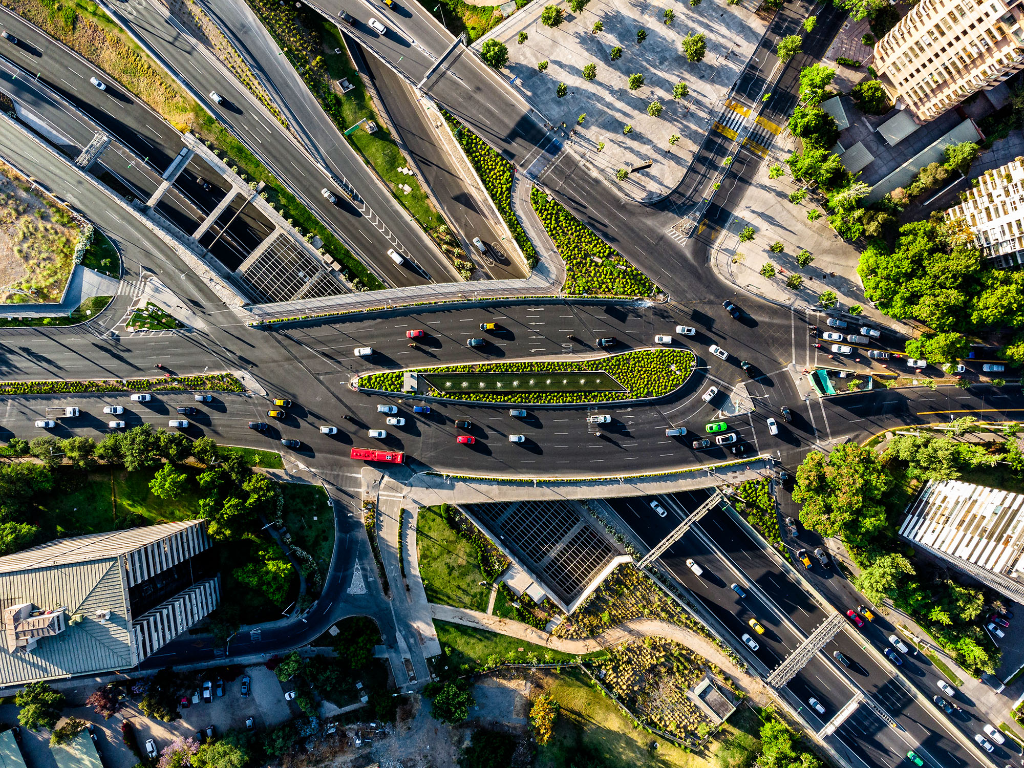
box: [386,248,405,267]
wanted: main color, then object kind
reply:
white vehicle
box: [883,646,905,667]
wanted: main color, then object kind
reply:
blue truck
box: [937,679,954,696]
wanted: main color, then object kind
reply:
white car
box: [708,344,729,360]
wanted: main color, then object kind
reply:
white car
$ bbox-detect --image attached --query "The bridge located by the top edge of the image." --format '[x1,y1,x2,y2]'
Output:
[299,0,552,158]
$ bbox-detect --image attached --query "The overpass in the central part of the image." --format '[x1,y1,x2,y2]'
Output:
[239,169,774,508]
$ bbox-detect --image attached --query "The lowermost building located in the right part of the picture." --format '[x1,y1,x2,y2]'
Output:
[692,674,737,723]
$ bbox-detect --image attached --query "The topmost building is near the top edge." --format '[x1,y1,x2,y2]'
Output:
[876,0,1024,120]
